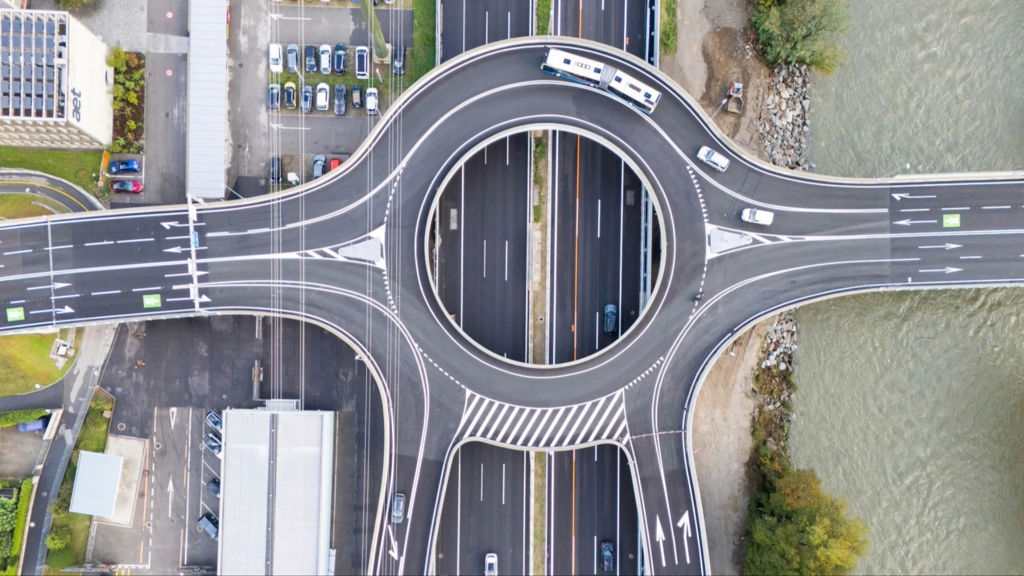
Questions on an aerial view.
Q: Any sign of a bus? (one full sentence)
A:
Yes, there's a bus here.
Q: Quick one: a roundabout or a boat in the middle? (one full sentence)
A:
The one visible in the middle is a roundabout.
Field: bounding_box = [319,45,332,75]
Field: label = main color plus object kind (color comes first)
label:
white vehicle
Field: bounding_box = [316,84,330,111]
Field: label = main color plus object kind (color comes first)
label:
white car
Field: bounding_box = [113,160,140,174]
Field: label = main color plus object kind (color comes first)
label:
blue car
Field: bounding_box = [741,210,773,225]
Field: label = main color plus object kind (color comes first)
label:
white car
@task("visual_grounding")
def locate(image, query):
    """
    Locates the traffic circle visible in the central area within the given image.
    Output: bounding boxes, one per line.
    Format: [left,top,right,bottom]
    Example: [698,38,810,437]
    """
[204,36,892,479]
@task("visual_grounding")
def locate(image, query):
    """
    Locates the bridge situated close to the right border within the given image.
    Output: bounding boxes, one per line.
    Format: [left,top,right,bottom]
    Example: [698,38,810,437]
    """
[884,166,1024,292]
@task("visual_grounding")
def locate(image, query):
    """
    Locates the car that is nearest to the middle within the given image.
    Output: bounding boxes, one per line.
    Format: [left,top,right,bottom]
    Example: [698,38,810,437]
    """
[604,304,617,333]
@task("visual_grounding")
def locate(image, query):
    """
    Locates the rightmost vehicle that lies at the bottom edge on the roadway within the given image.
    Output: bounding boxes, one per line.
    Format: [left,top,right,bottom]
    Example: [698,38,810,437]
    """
[600,540,615,571]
